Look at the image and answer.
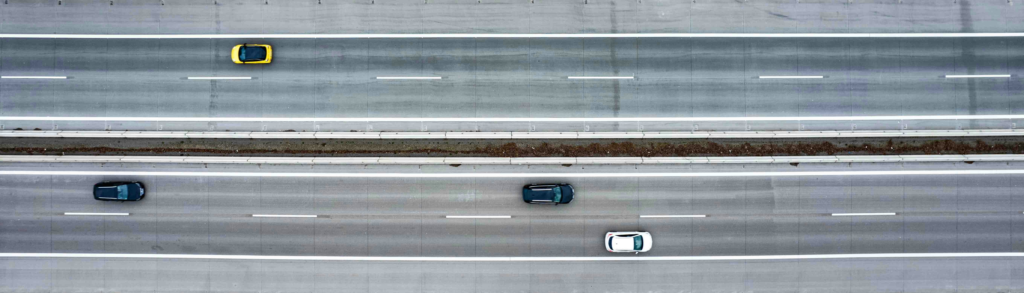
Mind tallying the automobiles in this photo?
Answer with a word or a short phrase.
4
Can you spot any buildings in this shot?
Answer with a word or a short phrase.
No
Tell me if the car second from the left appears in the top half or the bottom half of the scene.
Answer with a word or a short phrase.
top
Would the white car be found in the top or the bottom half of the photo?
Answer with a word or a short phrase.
bottom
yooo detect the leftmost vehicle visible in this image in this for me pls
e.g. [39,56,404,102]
[92,179,146,204]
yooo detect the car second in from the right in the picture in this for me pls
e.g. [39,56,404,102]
[523,182,574,207]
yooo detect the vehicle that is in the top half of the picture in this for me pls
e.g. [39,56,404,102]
[231,41,272,65]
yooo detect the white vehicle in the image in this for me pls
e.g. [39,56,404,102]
[605,231,652,255]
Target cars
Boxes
[92,179,146,204]
[523,182,574,207]
[231,41,272,65]
[605,231,652,255]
